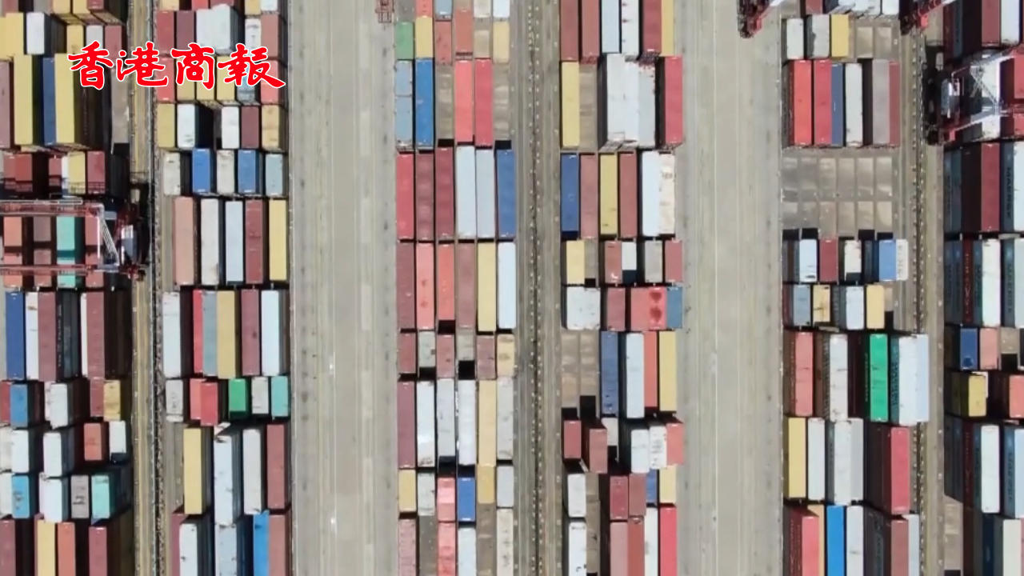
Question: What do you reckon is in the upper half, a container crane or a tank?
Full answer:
What appears in the upper half is a container crane.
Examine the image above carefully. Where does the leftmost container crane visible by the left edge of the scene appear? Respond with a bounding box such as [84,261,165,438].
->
[0,184,149,284]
